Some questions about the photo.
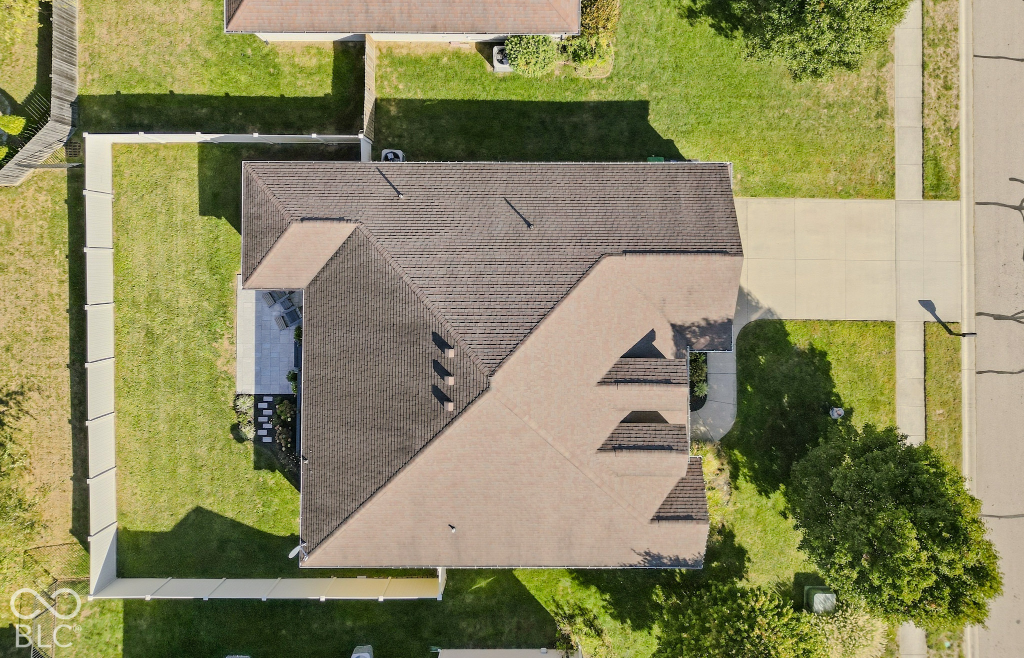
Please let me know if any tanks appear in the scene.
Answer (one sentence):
No, there appears to be no tank in this shot.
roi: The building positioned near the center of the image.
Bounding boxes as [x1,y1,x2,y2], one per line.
[242,160,744,570]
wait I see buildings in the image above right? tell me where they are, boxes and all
[225,0,581,42]
[242,160,744,570]
[434,633,585,658]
